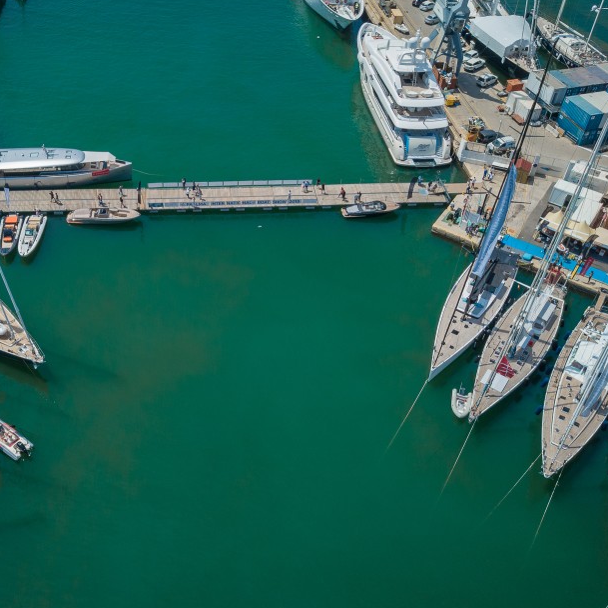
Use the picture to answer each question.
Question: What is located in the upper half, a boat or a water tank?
boat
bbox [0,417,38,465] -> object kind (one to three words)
boat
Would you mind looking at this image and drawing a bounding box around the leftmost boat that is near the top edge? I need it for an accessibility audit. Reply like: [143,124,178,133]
[307,0,369,40]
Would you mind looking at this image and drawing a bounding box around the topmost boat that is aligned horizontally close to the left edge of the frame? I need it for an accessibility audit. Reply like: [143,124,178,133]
[0,149,162,193]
